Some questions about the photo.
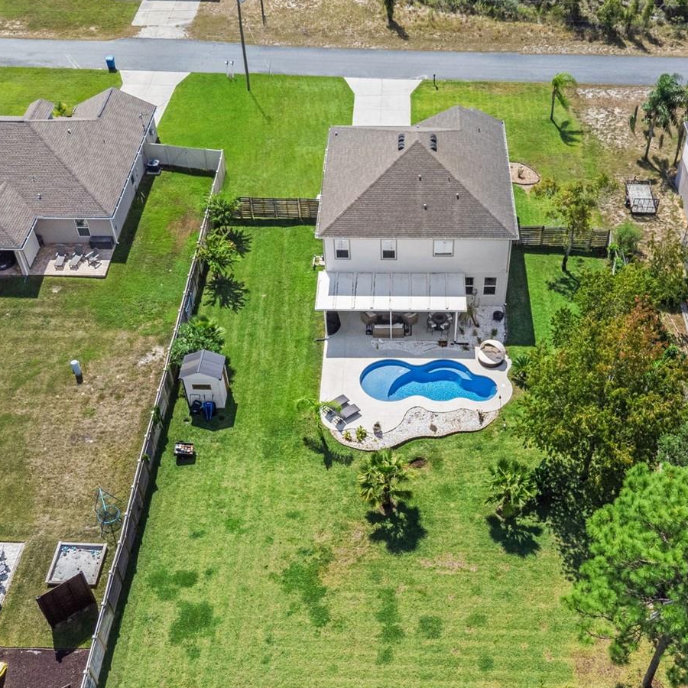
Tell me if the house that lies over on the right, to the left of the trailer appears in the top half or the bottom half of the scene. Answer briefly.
top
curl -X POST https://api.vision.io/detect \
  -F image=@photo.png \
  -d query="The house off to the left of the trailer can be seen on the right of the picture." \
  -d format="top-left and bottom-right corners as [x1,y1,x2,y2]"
[314,100,522,339]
